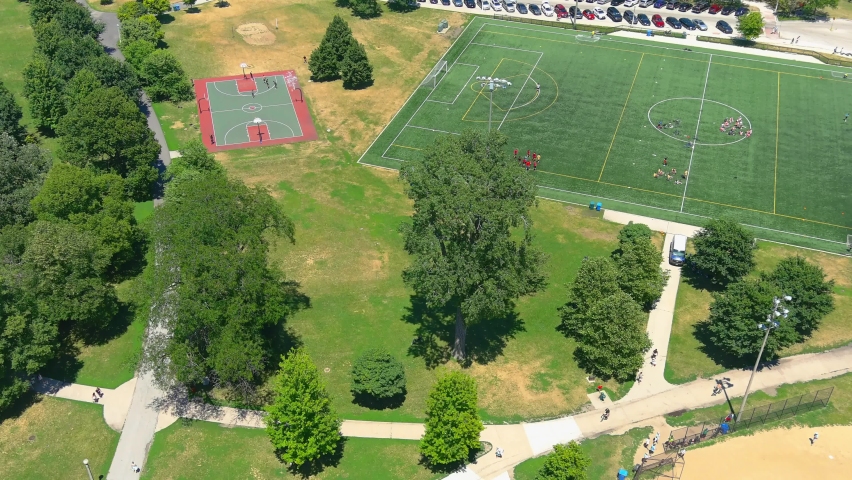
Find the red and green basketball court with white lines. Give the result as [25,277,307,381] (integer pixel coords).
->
[193,70,319,151]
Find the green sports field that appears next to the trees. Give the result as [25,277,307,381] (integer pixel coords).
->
[366,17,852,244]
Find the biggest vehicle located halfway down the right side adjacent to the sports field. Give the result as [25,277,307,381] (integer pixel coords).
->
[672,230,690,264]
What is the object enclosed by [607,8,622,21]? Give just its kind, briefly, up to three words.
vehicle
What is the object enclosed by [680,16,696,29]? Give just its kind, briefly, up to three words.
vehicle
